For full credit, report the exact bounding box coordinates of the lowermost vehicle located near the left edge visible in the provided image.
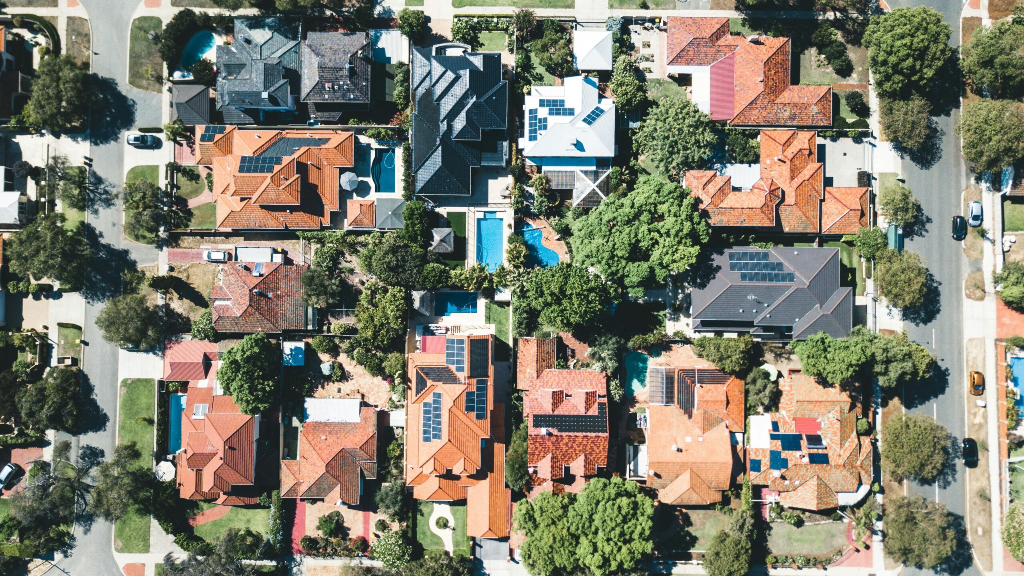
[0,461,20,490]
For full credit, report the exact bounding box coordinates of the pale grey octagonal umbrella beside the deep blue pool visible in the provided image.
[341,173,358,190]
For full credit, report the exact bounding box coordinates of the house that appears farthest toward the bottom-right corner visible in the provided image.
[747,374,873,510]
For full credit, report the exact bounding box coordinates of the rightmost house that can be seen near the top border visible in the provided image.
[664,17,833,128]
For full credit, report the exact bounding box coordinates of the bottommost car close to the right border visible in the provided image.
[960,438,978,467]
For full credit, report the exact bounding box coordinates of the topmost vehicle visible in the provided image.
[127,133,158,147]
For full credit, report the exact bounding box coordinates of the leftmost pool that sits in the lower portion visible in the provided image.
[168,393,186,455]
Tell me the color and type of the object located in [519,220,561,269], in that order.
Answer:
blue swimming pool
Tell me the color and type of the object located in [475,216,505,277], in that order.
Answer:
blue swimming pool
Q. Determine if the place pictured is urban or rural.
urban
